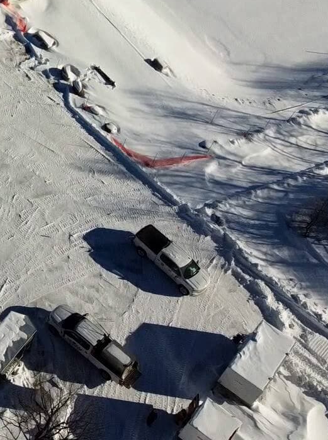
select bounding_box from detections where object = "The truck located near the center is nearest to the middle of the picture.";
[127,225,211,301]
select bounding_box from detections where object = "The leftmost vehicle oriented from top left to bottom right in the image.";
[39,298,151,393]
